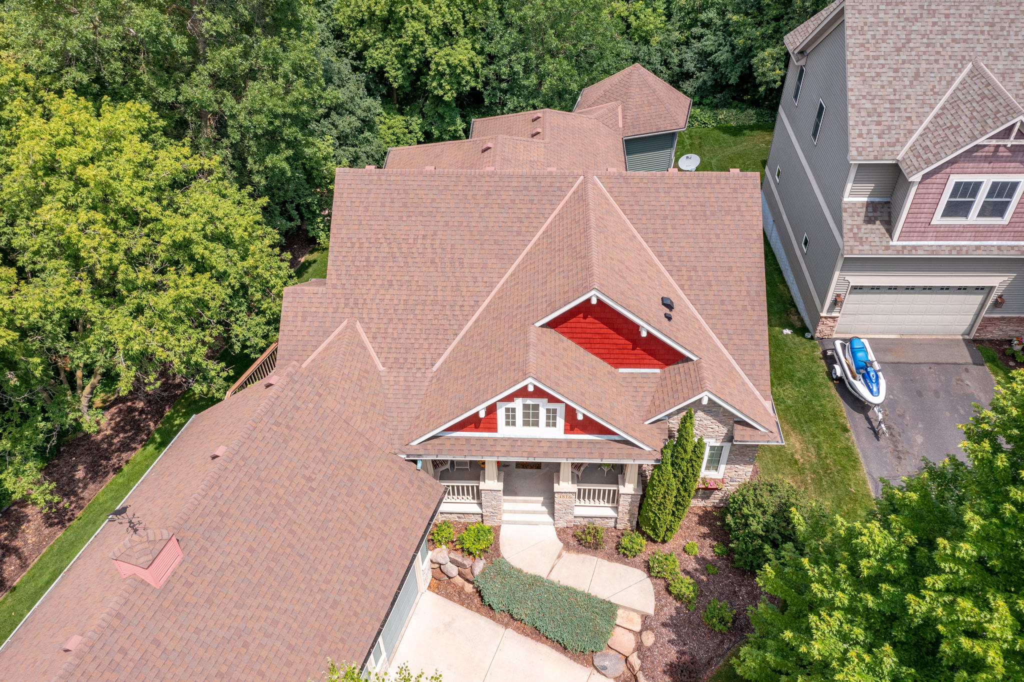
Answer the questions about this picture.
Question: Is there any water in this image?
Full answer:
No, no water is visible.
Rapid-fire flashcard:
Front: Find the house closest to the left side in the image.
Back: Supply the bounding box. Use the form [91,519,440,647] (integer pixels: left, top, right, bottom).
[0,62,786,682]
